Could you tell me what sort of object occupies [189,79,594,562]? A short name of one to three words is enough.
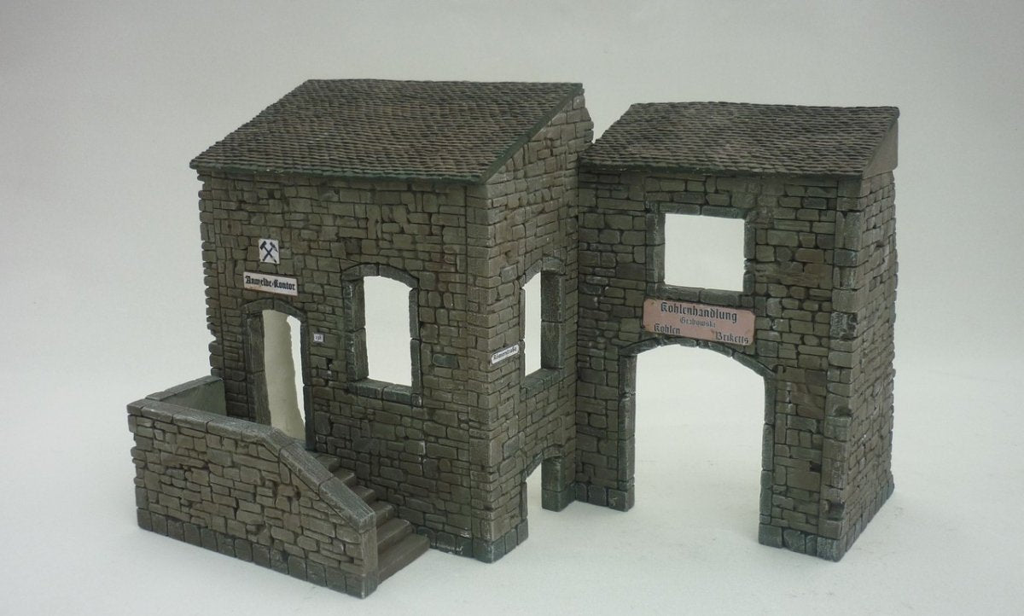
house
